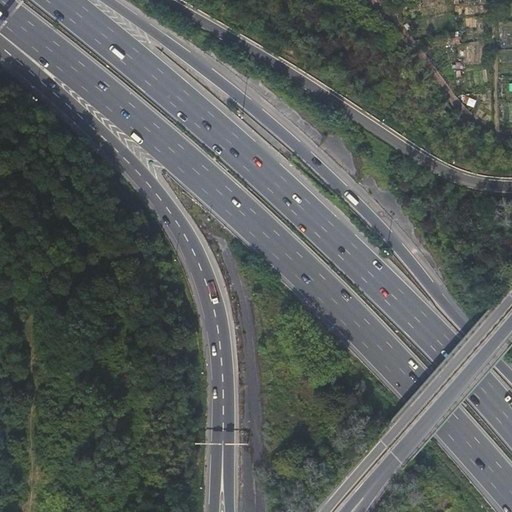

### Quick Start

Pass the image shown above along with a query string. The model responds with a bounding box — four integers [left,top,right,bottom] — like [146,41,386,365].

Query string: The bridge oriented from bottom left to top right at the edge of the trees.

[374,289,512,466]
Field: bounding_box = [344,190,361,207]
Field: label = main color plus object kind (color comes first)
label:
white vehicle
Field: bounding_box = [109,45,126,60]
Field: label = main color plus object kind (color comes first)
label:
white vehicle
